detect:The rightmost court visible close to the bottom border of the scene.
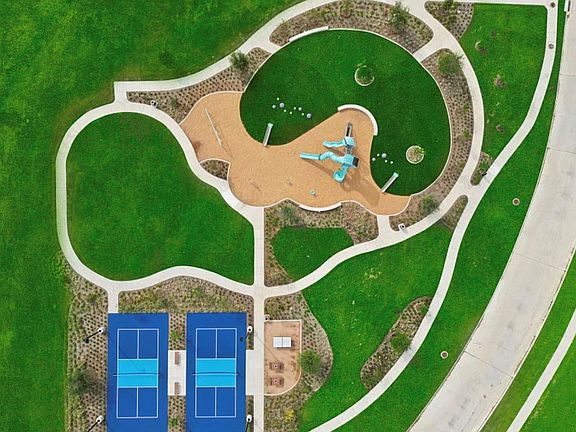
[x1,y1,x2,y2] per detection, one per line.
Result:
[186,312,247,432]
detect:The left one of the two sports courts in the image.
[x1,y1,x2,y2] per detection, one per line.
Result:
[107,313,168,432]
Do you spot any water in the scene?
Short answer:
No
